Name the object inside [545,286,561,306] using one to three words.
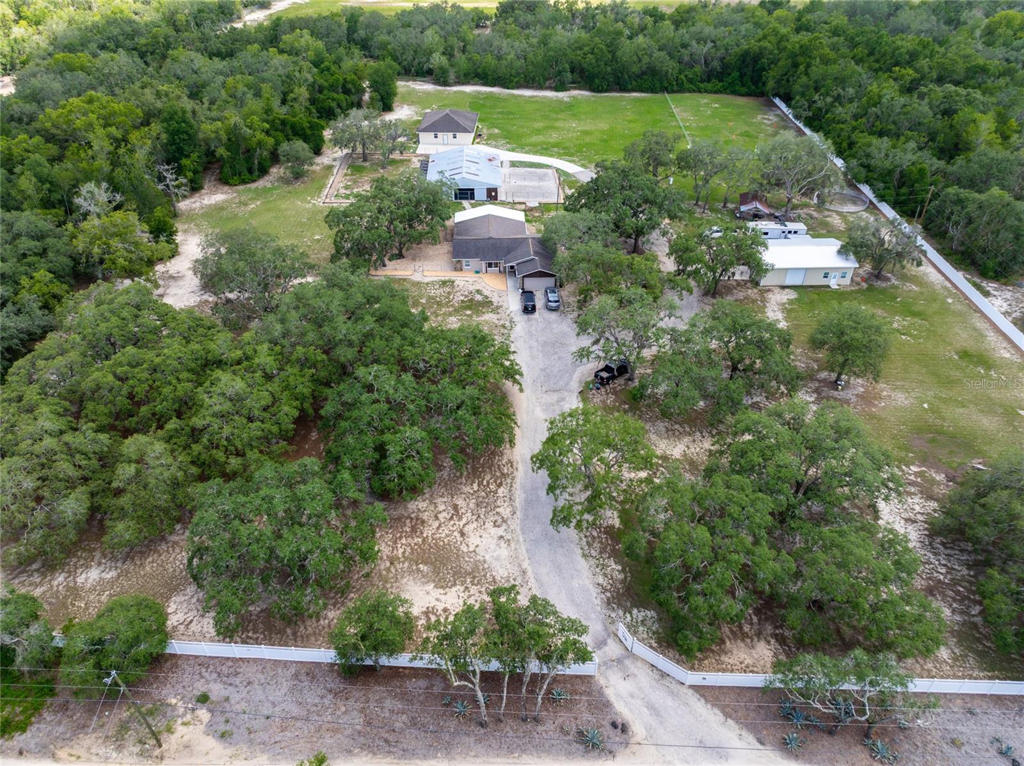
car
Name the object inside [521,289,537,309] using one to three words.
car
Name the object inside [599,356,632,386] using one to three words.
truck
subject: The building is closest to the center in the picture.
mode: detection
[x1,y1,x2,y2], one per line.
[451,203,569,289]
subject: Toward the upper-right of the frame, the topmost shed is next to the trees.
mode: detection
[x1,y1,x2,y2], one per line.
[729,189,768,223]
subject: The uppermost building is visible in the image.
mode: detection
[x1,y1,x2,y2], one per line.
[417,110,477,146]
